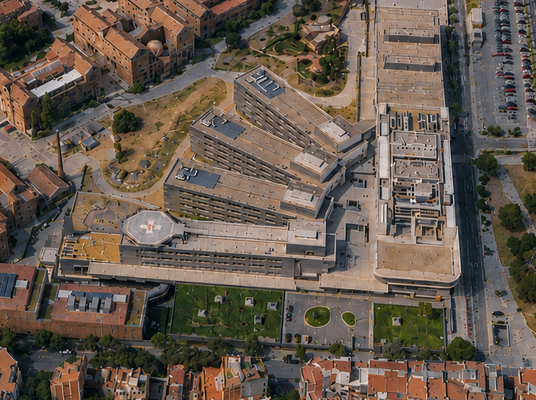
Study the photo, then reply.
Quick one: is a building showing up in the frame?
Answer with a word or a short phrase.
Yes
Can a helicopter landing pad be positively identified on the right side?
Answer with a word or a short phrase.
No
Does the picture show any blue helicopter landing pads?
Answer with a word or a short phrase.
No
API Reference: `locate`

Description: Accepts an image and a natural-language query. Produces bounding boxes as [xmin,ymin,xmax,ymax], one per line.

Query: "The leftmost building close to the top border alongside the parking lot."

[374,0,446,114]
